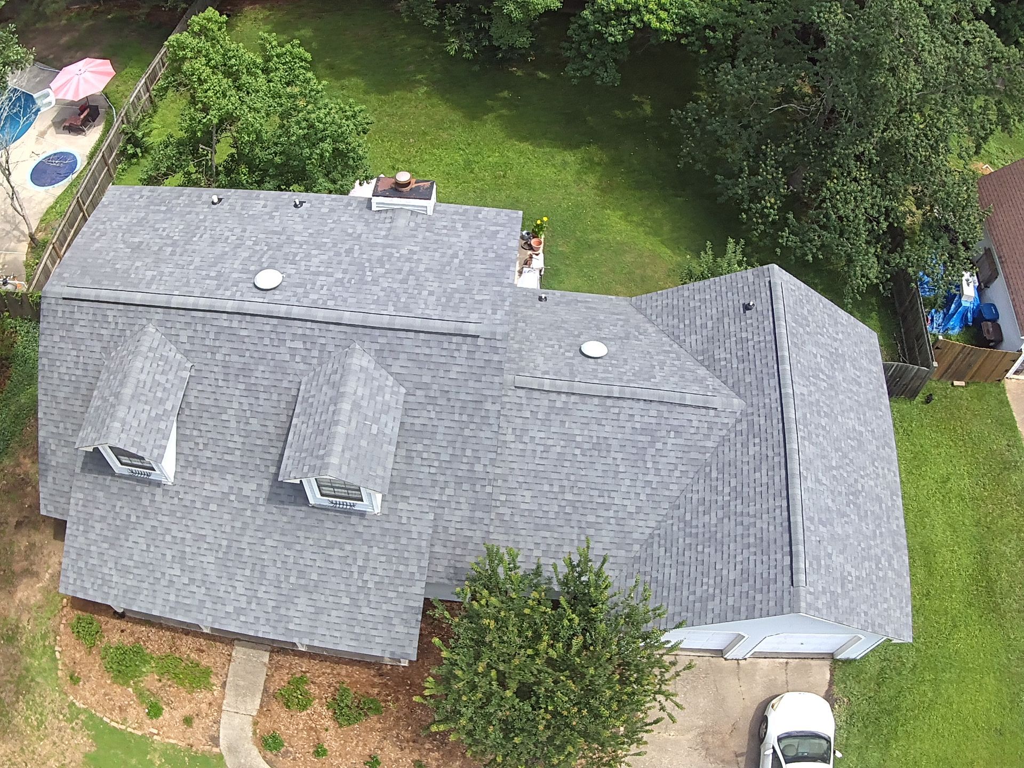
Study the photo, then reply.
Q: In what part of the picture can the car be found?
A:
bottom right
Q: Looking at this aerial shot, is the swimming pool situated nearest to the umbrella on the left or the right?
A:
left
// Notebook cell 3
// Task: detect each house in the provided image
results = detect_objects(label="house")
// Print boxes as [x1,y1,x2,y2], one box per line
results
[969,159,1024,380]
[40,173,912,667]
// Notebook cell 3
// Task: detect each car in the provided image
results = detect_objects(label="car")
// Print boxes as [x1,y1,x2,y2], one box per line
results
[757,691,851,768]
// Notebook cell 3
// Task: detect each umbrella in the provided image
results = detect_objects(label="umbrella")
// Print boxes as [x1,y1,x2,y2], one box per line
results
[50,58,116,101]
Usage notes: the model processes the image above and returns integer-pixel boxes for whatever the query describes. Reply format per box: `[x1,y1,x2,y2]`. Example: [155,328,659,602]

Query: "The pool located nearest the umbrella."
[0,83,55,150]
